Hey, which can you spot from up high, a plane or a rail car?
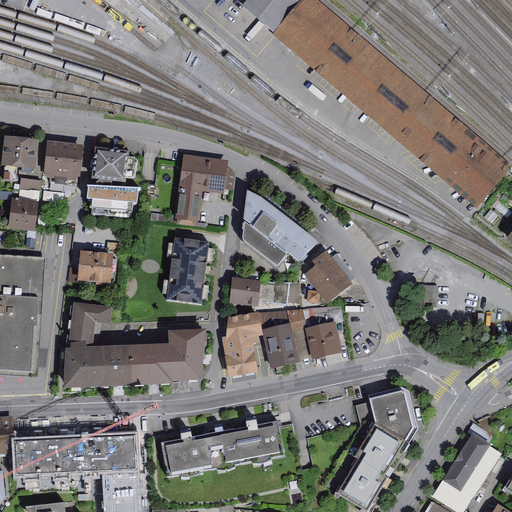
rail car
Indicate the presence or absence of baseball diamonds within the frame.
No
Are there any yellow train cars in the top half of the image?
Yes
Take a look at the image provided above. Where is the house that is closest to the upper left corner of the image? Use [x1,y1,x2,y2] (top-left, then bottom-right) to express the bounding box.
[2,135,39,168]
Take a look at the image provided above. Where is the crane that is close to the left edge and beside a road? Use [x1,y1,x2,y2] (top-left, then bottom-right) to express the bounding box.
[0,404,158,472]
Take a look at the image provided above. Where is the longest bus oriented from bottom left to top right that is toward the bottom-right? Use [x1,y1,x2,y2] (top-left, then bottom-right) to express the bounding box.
[468,360,503,389]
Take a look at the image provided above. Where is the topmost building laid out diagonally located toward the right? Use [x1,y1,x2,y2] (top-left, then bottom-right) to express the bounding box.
[273,0,510,208]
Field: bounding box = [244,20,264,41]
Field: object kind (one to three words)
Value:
vehicle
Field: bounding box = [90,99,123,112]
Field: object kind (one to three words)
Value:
rail car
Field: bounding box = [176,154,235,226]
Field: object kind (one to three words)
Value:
house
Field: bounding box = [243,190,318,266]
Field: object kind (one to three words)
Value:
building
